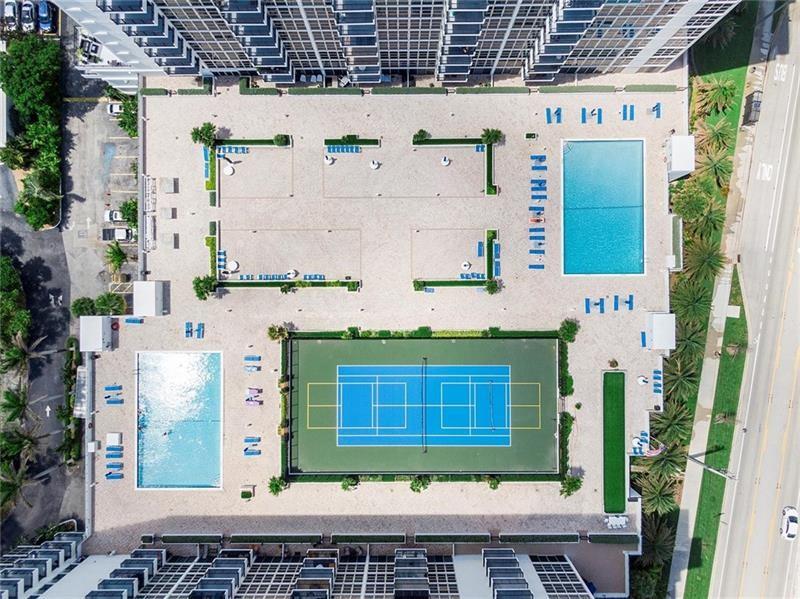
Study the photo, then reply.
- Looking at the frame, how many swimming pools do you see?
2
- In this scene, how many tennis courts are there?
1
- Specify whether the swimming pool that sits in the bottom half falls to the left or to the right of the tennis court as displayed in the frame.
left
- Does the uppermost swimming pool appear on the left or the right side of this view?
right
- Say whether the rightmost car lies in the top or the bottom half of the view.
bottom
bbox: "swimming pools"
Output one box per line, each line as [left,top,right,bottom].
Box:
[563,140,648,274]
[132,352,221,490]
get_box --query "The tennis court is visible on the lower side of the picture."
[289,340,559,473]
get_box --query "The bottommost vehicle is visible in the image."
[778,505,800,541]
